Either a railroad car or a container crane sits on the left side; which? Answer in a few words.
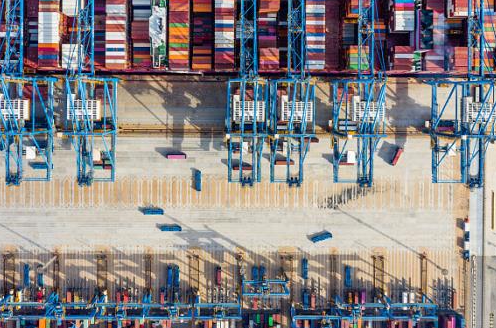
container crane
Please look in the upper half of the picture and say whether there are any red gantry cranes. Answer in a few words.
No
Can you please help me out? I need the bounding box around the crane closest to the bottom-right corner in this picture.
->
[379,288,435,319]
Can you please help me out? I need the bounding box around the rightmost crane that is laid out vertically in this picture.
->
[419,0,496,189]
